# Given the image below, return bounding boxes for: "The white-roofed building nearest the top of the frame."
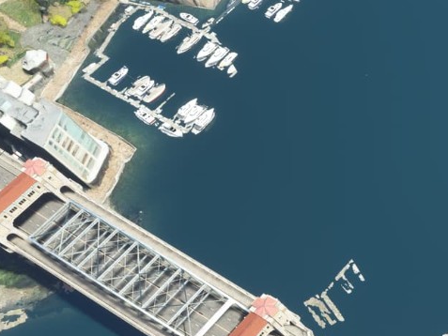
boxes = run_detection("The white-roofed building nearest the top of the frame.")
[22,49,55,78]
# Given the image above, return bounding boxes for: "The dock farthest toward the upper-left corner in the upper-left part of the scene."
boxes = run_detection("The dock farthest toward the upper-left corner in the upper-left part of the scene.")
[81,5,140,76]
